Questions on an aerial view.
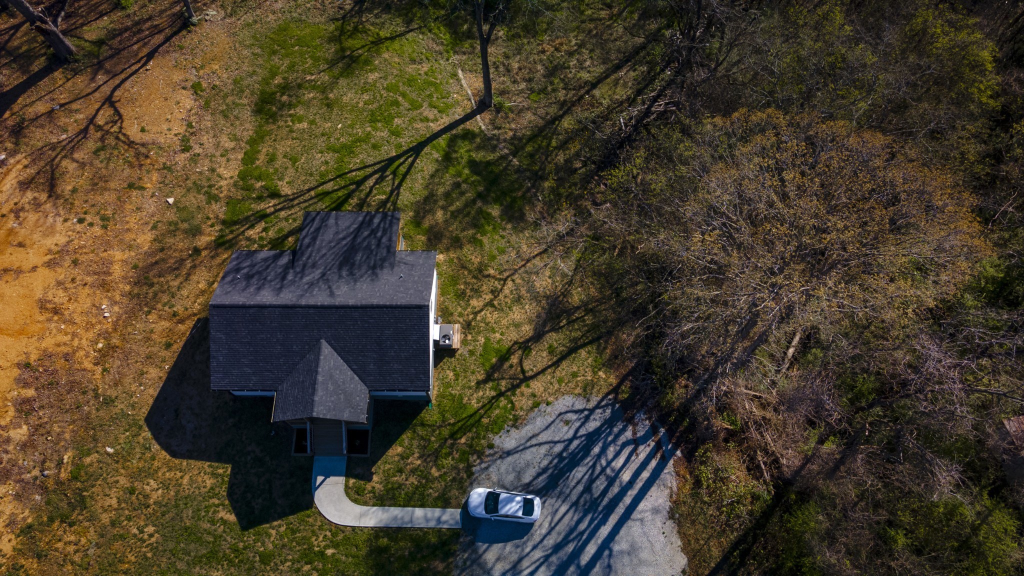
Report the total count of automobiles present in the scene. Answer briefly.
1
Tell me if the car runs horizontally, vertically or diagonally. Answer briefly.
horizontally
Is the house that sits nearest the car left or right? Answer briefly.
left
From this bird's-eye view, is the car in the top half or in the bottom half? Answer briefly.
bottom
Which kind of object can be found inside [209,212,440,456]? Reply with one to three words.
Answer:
house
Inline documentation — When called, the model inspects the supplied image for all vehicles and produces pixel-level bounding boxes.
[468,485,541,523]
